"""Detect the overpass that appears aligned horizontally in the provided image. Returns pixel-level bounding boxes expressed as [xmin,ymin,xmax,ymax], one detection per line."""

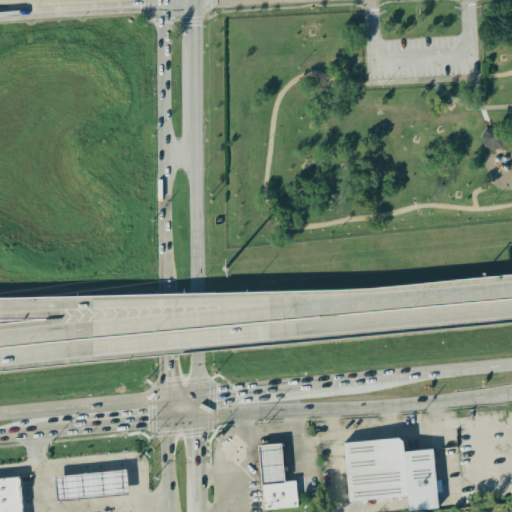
[0,274,512,372]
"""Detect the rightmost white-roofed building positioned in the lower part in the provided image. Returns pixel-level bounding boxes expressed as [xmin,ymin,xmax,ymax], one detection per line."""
[406,448,444,512]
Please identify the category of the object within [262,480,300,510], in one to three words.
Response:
building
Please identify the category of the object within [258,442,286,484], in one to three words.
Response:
building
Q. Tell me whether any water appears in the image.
No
